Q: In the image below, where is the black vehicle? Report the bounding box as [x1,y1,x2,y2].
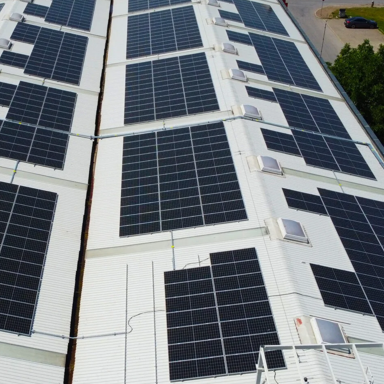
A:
[344,16,379,29]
